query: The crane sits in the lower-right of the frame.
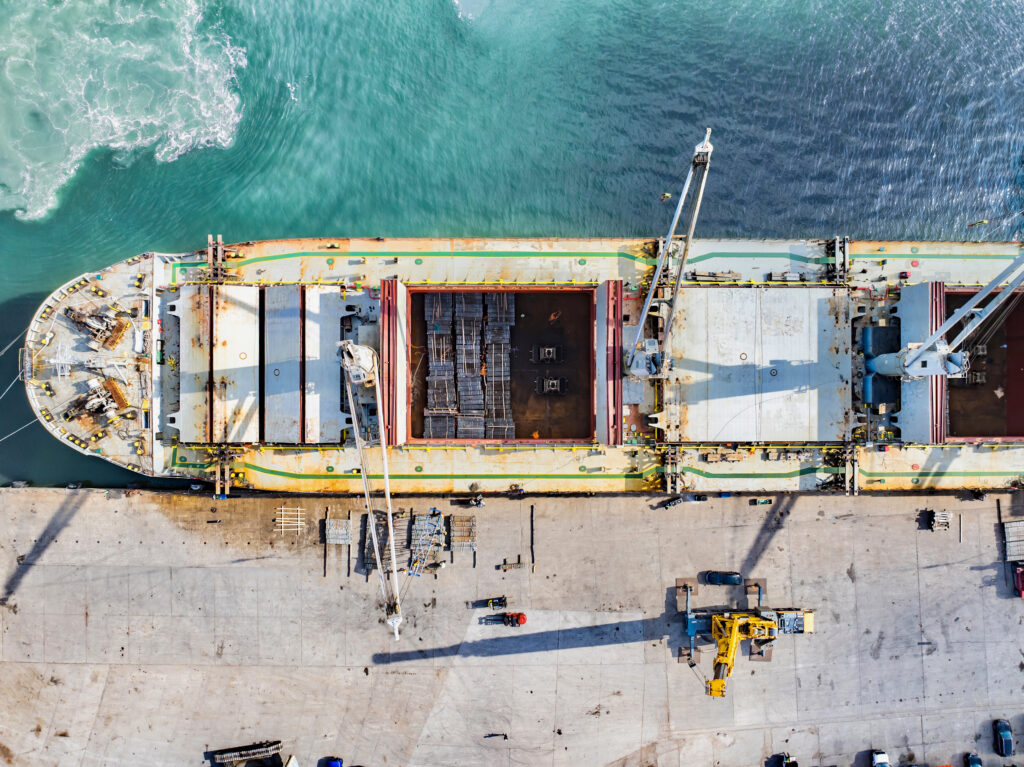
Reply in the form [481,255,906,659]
[679,581,813,697]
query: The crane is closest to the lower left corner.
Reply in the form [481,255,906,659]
[328,340,404,642]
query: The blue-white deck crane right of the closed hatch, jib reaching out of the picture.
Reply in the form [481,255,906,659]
[851,260,1024,384]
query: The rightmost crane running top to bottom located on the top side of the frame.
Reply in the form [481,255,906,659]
[622,128,712,383]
